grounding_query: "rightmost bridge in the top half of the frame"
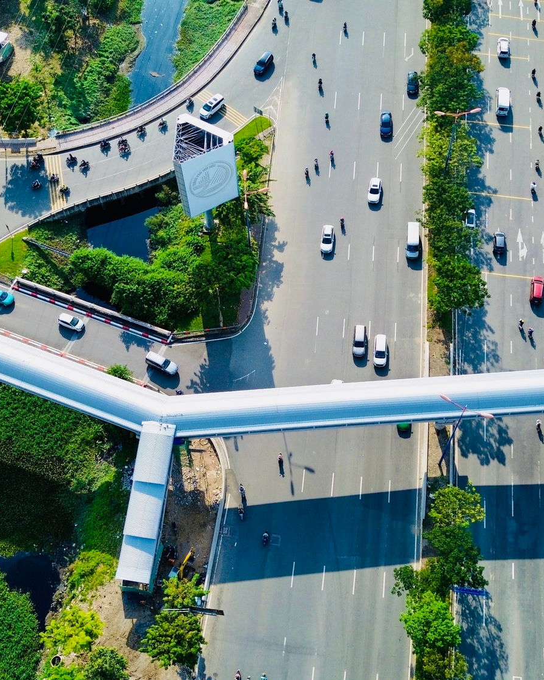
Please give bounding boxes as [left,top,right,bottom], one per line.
[43,169,176,218]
